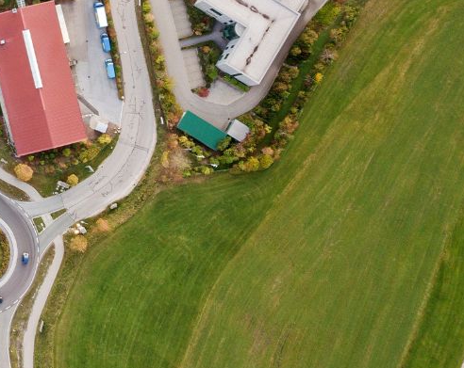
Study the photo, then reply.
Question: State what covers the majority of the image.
grass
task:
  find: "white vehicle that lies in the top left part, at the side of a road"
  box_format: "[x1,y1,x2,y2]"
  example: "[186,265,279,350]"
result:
[96,0,109,25]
